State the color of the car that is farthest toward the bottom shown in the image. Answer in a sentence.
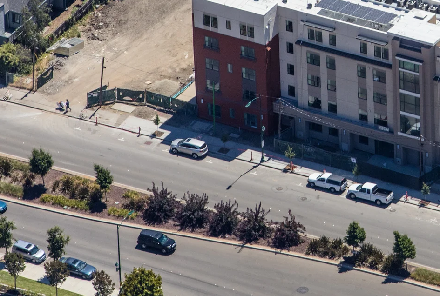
In this view, the car that is farthest toward the bottom is blue.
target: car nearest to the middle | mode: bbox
[167,137,210,159]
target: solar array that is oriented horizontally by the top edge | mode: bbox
[314,0,399,30]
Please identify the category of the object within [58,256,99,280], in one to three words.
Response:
car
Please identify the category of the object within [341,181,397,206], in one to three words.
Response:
truck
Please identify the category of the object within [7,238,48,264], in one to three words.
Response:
car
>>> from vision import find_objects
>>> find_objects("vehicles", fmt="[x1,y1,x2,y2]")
[341,181,397,206]
[298,168,352,194]
[0,196,13,212]
[134,228,180,255]
[7,238,48,264]
[167,137,210,159]
[58,256,99,280]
